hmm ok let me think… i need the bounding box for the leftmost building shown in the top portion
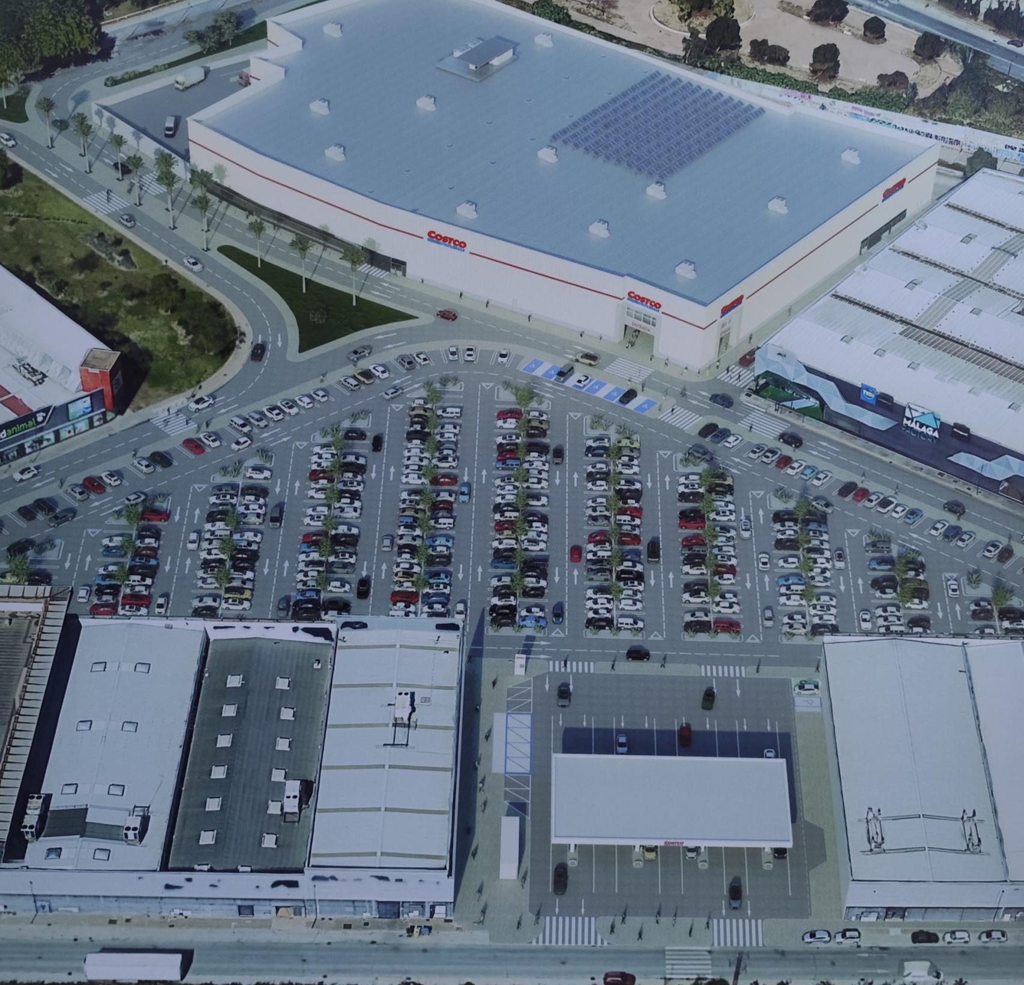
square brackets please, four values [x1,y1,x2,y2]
[0,266,125,462]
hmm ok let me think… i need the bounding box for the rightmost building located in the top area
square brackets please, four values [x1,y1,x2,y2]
[754,167,1024,502]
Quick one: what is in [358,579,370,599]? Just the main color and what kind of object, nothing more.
black vehicle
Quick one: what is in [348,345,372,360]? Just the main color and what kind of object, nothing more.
gray car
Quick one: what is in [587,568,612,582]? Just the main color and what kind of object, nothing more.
gray car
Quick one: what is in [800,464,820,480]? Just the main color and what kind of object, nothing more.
blue car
